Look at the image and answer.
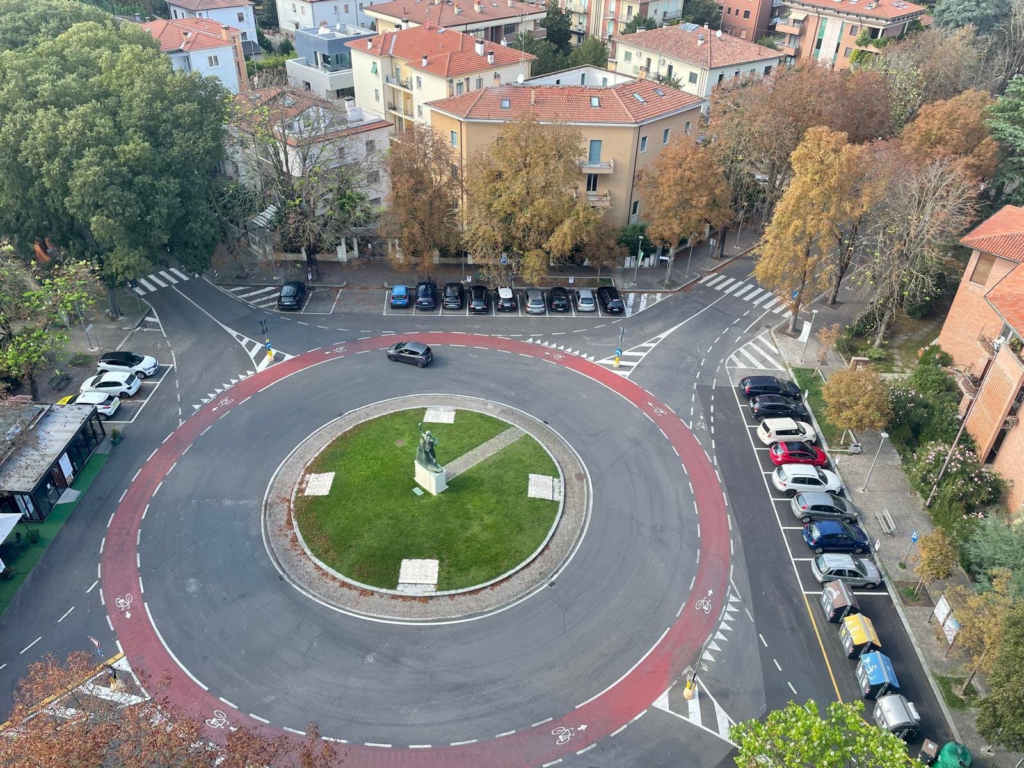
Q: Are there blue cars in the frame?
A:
Yes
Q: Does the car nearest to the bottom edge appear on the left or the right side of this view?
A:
right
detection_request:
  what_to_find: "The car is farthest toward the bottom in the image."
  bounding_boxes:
[810,552,887,590]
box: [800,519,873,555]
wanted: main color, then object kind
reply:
blue car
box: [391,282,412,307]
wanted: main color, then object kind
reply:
blue car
